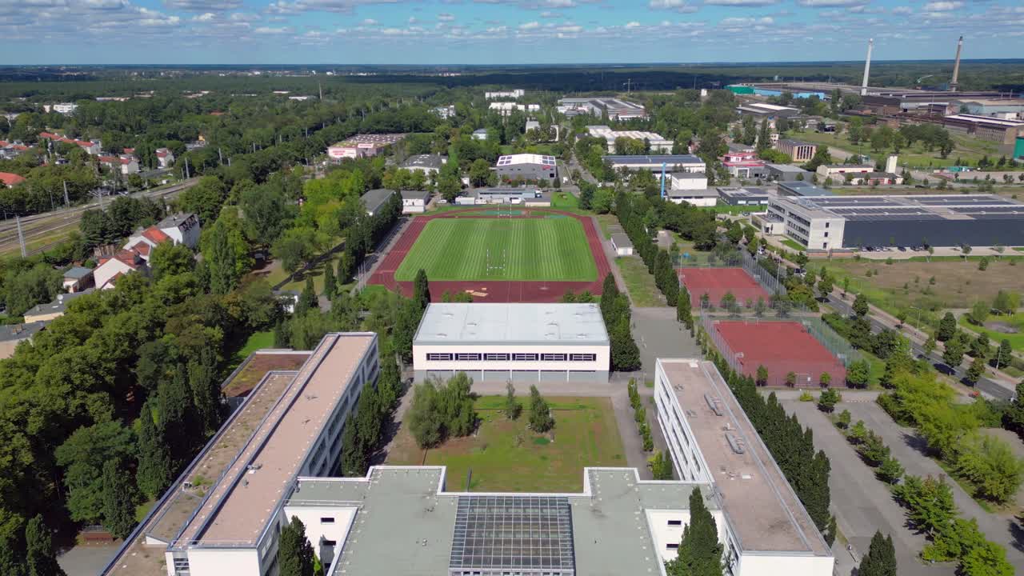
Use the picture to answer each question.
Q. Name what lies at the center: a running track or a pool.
running track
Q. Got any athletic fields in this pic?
Yes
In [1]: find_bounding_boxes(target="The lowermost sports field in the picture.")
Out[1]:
[397,218,596,281]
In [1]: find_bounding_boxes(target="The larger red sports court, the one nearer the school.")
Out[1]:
[717,321,861,386]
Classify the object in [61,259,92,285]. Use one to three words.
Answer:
house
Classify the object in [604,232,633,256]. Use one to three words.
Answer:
shed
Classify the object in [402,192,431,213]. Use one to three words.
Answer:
building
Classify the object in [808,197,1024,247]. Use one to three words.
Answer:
building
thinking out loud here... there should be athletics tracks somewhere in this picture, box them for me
[368,205,626,300]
